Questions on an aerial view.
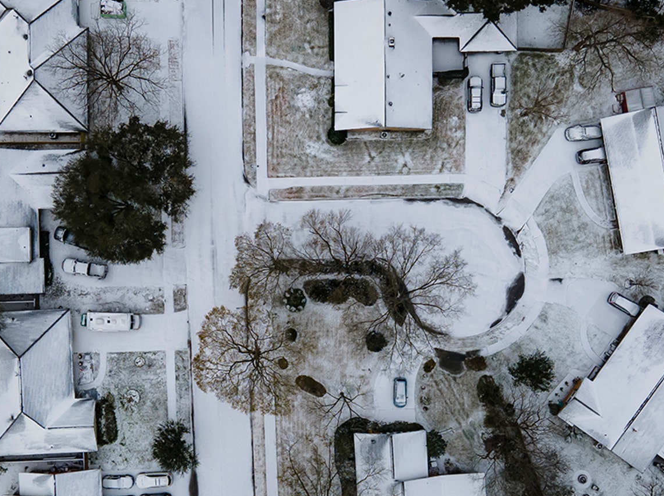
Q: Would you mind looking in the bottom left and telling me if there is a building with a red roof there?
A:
No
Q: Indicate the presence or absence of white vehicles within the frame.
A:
Yes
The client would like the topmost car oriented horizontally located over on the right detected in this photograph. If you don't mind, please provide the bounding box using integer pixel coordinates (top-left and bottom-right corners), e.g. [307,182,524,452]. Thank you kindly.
[566,124,601,140]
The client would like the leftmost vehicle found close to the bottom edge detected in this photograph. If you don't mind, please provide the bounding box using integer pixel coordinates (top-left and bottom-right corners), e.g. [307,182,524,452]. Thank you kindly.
[102,475,135,492]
